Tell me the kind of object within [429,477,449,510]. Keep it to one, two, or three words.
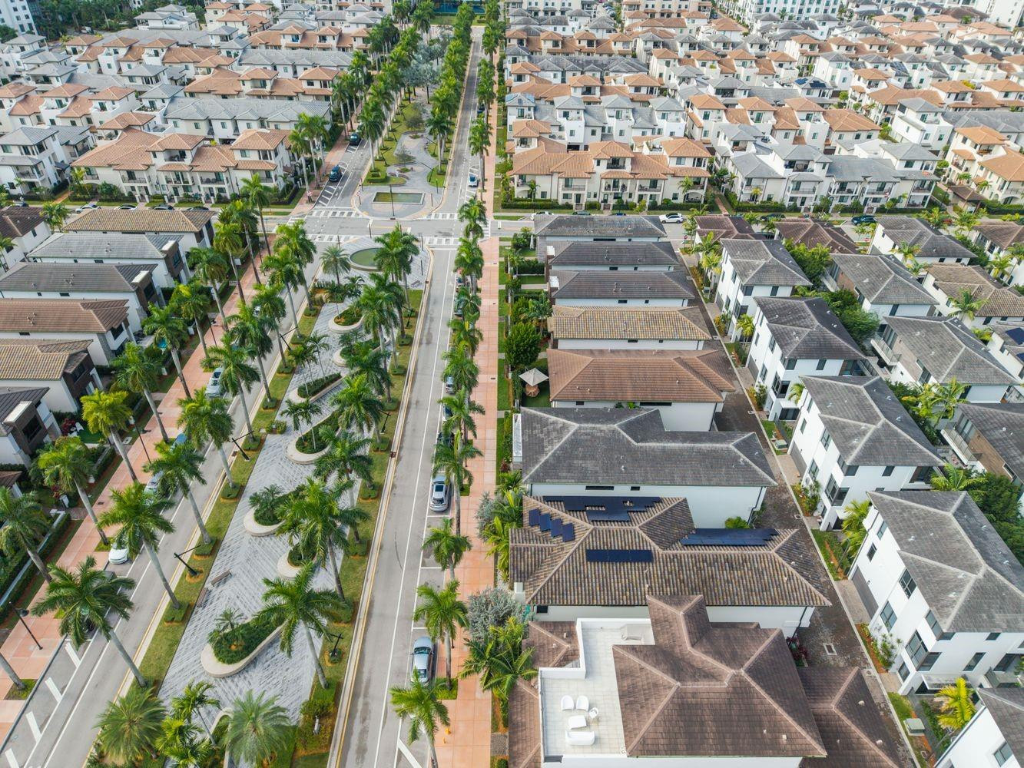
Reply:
car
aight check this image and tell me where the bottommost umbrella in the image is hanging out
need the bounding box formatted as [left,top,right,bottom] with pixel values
[517,369,548,394]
